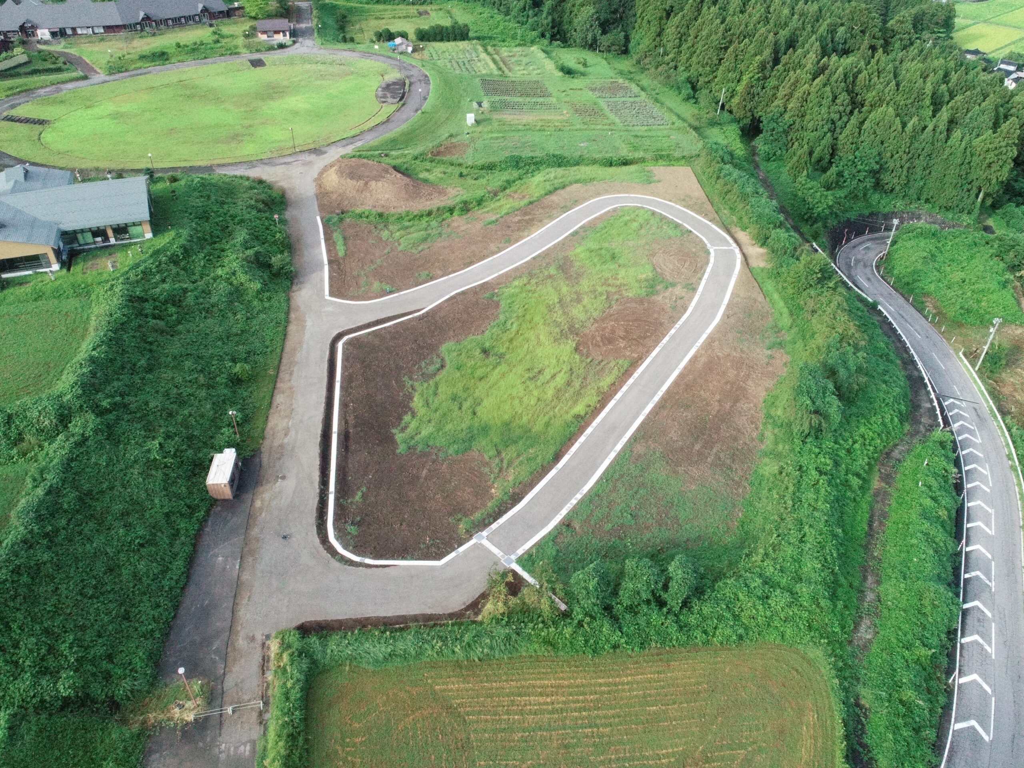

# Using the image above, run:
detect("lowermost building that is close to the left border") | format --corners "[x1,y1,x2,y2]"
[0,153,157,275]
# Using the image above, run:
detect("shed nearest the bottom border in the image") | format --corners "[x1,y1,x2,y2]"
[205,447,245,499]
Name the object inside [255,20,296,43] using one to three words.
shed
